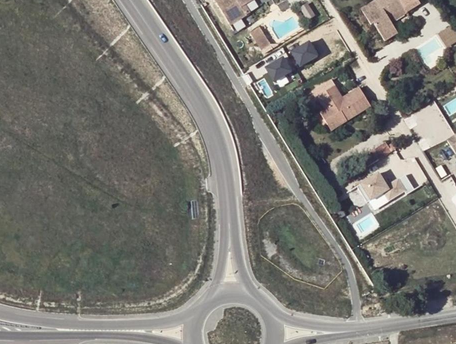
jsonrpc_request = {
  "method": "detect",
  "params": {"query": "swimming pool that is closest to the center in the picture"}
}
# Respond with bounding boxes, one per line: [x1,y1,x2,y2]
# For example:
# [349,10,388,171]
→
[256,78,274,100]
